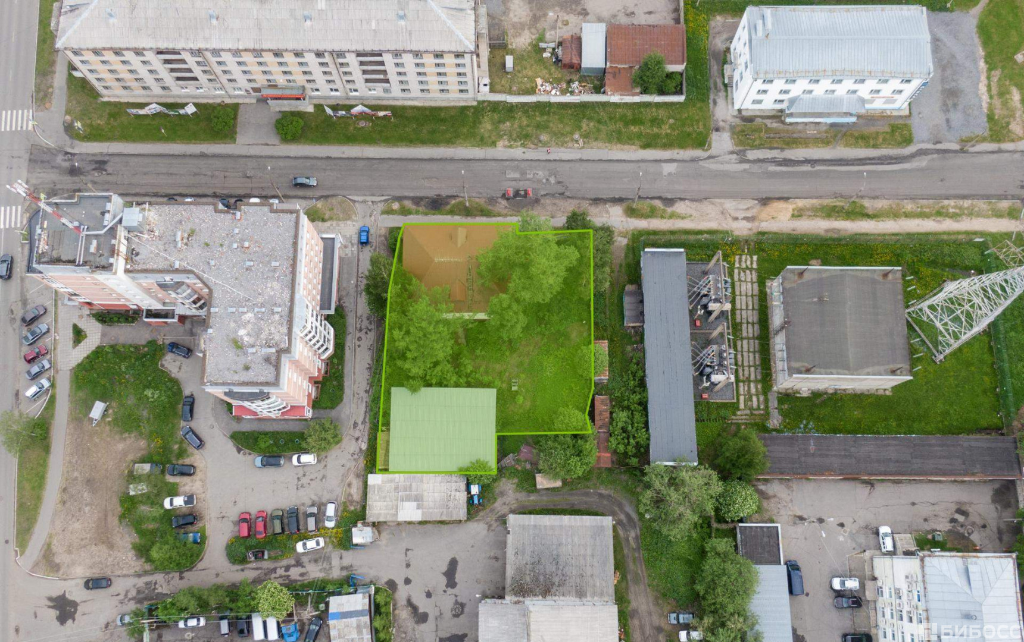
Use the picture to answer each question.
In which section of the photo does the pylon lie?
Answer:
right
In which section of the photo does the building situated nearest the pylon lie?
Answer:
right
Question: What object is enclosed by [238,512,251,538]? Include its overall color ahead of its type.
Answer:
red vehicle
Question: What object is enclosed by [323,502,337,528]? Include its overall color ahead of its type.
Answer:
white car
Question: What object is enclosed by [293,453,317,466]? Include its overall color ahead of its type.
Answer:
white vehicle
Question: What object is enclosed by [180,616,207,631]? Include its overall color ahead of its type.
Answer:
white car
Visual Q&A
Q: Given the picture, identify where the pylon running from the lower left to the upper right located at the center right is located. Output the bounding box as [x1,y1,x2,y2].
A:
[906,238,1024,362]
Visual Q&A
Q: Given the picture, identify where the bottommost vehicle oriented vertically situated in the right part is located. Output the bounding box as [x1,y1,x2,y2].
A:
[784,561,805,596]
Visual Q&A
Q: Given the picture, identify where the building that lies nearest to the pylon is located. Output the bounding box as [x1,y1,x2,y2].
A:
[761,265,912,396]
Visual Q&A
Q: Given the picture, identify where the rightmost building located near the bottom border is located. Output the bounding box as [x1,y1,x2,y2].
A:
[864,550,1024,642]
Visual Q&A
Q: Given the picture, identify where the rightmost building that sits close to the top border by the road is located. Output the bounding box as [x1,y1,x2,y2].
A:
[723,2,932,123]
